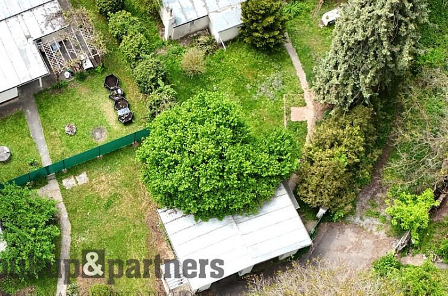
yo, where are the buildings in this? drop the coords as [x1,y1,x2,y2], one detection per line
[0,0,68,105]
[153,0,254,49]
[156,185,314,296]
